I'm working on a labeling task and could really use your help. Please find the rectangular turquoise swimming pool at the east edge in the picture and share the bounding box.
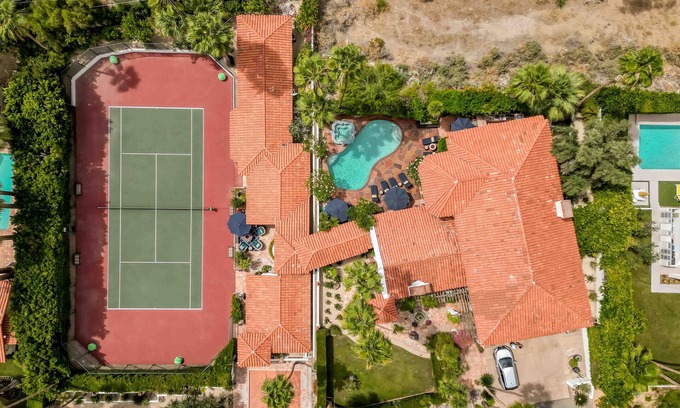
[639,122,680,171]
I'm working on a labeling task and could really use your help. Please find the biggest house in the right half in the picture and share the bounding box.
[370,116,592,347]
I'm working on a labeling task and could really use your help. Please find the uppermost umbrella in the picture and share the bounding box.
[448,112,476,137]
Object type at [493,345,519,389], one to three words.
car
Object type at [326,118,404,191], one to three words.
swimming pool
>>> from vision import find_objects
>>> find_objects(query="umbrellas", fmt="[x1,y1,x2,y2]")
[384,185,410,211]
[448,112,476,137]
[225,209,251,235]
[324,197,349,223]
